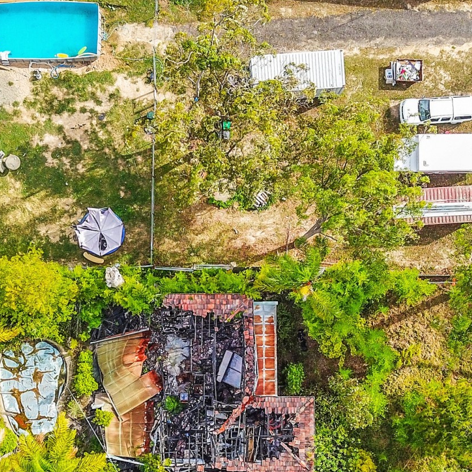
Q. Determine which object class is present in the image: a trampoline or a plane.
trampoline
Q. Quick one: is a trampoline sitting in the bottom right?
No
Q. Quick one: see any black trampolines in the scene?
No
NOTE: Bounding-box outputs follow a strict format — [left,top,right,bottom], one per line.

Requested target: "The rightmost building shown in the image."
[141,294,316,472]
